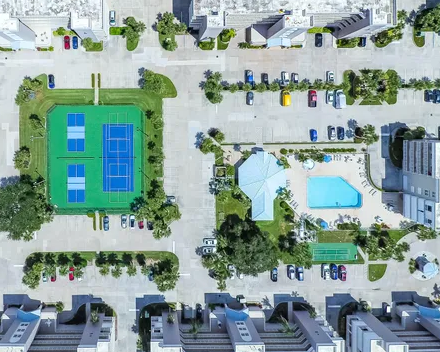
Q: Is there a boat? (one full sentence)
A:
No, the scene contains no boat.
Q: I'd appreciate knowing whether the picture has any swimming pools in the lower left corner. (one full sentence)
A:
No, there is no swimming pool in the lower left corner.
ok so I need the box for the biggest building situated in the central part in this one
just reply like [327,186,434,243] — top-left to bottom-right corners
[239,151,286,220]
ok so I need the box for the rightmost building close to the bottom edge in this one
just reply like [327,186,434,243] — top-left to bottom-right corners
[344,305,440,352]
